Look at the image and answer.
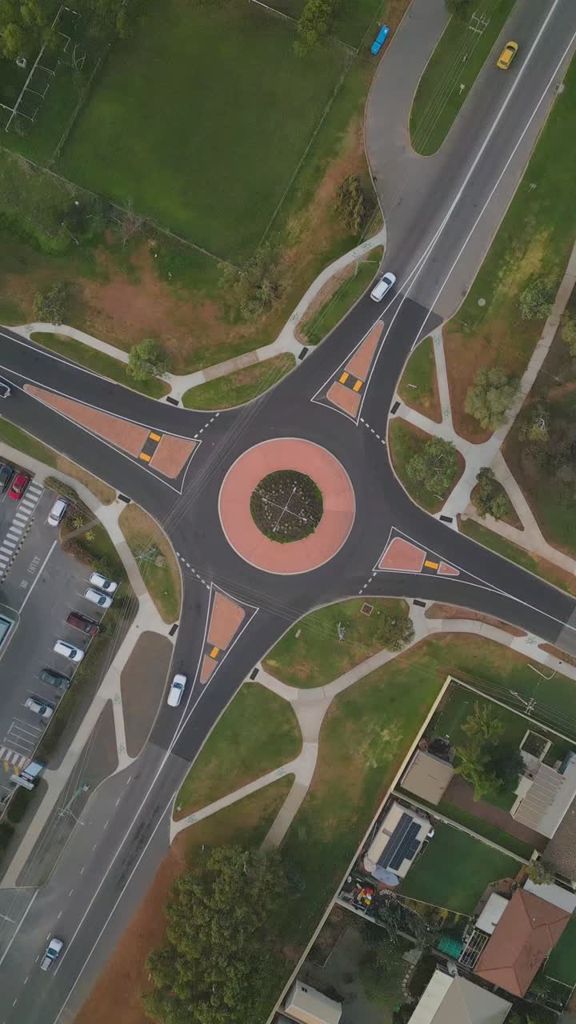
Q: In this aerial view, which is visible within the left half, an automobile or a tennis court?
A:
automobile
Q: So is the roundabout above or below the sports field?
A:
below it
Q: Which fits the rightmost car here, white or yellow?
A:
yellow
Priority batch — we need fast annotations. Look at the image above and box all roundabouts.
[197,417,376,596]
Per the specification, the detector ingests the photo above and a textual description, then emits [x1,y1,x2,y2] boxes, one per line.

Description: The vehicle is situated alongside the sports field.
[371,22,390,57]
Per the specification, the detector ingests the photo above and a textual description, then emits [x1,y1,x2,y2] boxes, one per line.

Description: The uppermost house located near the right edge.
[506,758,576,840]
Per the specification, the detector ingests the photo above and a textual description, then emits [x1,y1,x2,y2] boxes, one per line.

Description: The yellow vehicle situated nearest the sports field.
[495,40,519,73]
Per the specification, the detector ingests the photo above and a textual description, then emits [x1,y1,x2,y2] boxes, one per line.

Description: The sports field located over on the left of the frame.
[52,0,357,262]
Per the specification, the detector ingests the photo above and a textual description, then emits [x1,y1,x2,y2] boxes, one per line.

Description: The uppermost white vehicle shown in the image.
[370,270,395,304]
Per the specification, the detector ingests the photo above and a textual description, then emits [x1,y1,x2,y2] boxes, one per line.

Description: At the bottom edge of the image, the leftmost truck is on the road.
[37,934,63,974]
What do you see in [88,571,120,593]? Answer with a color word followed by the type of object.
white car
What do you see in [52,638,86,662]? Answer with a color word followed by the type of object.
white car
